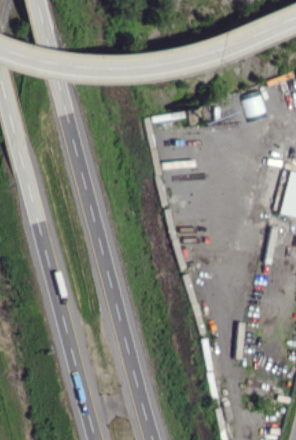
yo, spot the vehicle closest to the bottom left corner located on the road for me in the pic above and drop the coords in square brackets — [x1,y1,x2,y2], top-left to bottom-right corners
[72,372,88,414]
